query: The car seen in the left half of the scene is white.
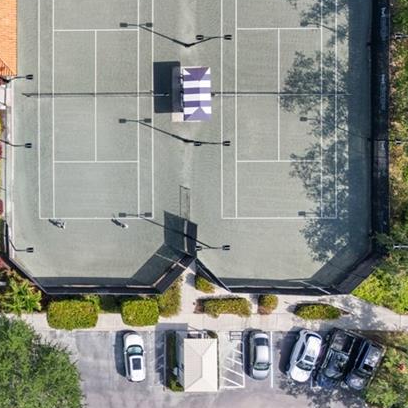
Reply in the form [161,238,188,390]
[123,330,147,382]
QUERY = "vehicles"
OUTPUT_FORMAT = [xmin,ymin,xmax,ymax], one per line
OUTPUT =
[315,328,360,386]
[247,328,273,379]
[343,334,387,392]
[286,327,322,382]
[123,330,147,382]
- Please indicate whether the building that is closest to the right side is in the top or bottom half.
bottom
